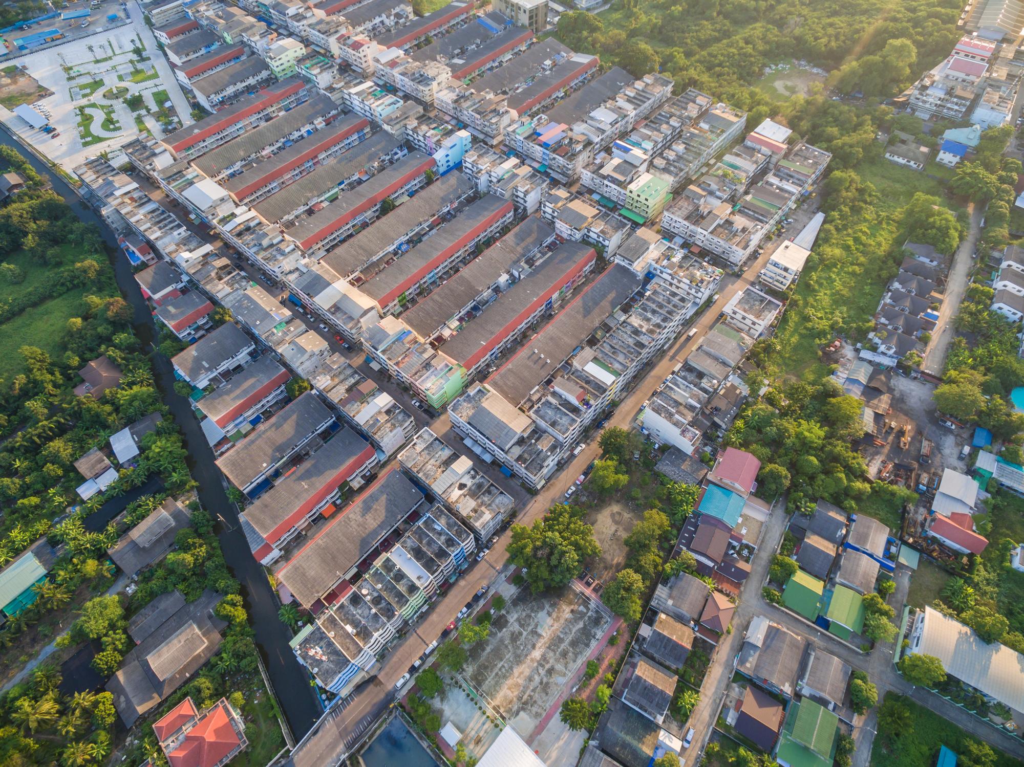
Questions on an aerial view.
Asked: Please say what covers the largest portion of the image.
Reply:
buildings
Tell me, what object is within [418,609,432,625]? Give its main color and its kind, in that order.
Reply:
gray car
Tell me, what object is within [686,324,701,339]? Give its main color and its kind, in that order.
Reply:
white vehicle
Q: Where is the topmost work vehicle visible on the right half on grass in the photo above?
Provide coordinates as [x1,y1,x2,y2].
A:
[828,334,845,350]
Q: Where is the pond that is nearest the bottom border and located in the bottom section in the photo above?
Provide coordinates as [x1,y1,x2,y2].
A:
[362,715,440,767]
